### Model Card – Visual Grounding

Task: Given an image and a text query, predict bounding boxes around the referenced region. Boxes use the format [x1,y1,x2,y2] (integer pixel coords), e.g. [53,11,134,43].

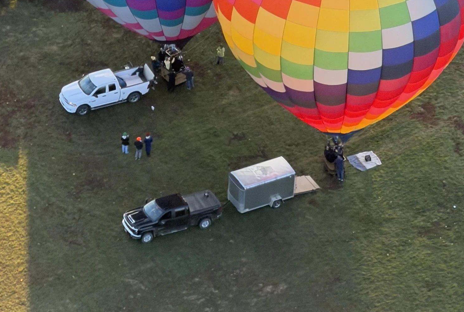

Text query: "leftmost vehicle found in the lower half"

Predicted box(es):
[124,191,225,243]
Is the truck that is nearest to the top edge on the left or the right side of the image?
left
